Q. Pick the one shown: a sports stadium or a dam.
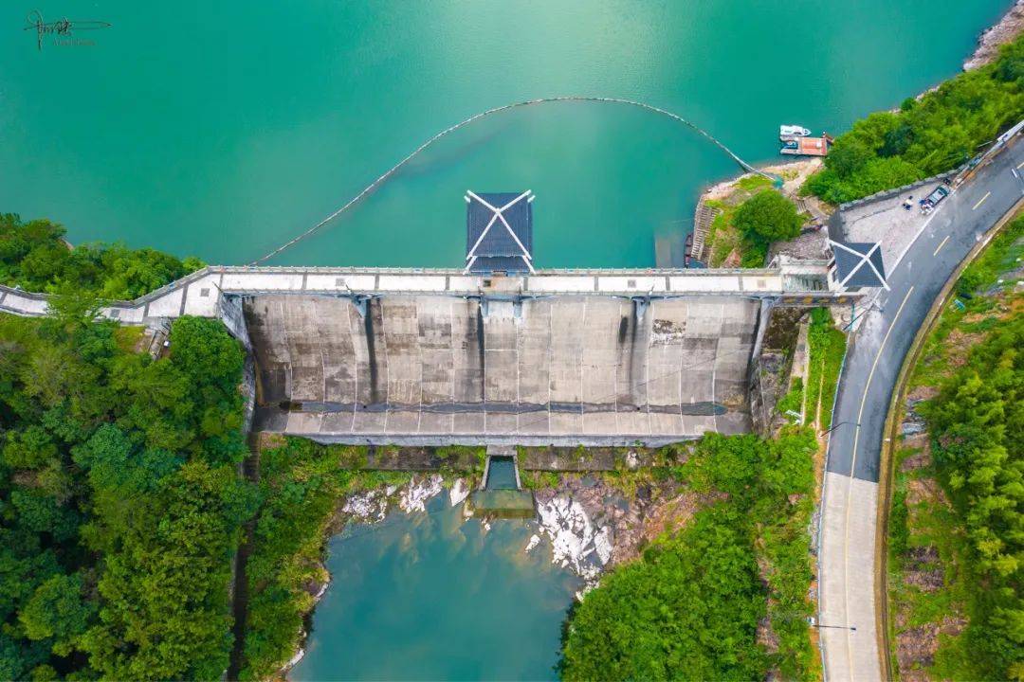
dam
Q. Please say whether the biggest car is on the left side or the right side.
right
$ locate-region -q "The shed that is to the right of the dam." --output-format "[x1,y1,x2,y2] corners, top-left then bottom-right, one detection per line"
[816,240,886,291]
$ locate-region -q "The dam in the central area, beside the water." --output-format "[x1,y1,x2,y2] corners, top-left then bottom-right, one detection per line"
[221,267,782,518]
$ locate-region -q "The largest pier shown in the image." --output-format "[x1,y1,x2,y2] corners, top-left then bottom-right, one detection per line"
[781,131,827,154]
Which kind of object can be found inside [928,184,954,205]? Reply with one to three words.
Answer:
car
